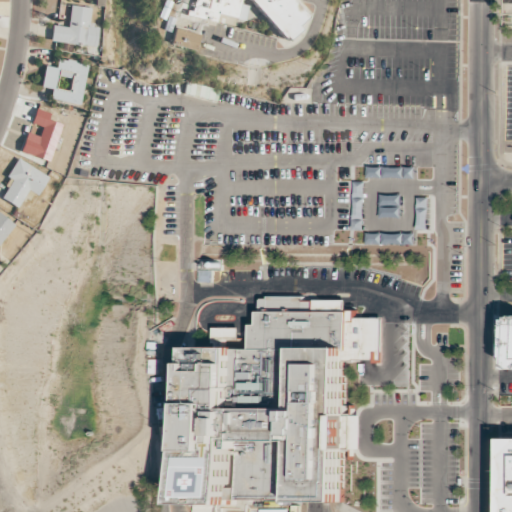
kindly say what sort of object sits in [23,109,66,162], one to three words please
house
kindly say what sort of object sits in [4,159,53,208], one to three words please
house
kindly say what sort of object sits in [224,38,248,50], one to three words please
vehicle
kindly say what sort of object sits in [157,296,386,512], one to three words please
building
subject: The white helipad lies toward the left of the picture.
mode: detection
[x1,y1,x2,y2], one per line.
[164,458,206,498]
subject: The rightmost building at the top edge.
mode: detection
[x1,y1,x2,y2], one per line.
[255,0,319,40]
